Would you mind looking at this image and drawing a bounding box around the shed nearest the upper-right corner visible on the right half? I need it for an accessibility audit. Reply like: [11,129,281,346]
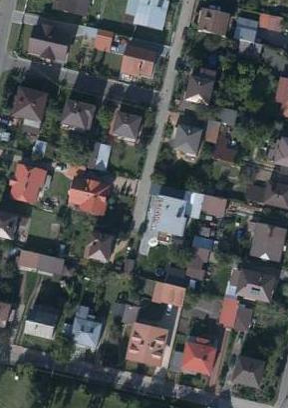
[258,15,284,34]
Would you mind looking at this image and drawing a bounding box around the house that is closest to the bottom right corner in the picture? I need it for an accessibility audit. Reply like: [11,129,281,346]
[231,355,265,391]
